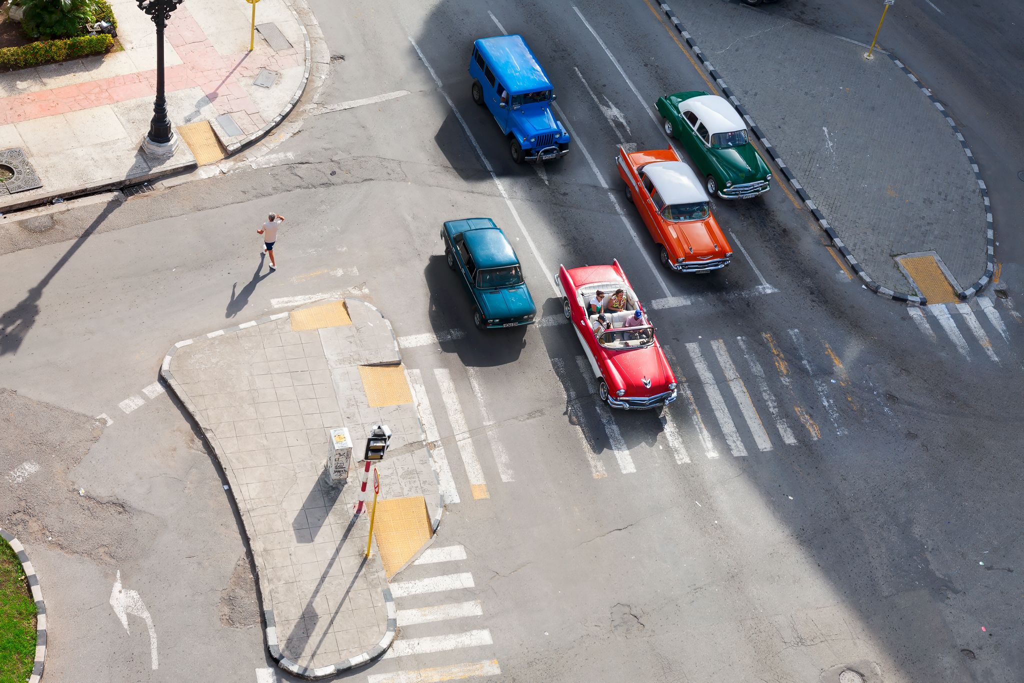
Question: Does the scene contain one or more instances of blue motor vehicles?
Yes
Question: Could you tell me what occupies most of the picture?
paved ground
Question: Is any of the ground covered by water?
No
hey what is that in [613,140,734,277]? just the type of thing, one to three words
car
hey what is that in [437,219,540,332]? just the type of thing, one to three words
car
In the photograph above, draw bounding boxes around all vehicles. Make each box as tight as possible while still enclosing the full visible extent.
[437,219,540,332]
[470,36,575,163]
[613,140,734,277]
[657,96,774,201]
[556,256,681,414]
